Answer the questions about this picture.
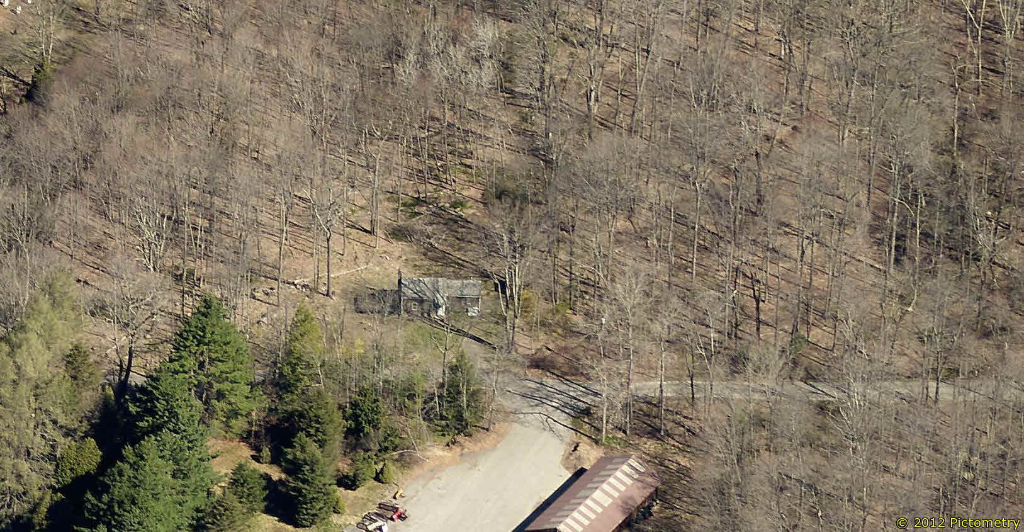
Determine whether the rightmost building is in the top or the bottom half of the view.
bottom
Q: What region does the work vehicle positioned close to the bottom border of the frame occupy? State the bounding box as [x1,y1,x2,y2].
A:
[390,507,410,522]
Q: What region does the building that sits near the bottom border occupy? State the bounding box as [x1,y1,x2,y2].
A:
[526,452,662,532]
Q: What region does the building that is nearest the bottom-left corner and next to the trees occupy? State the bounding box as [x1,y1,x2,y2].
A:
[395,273,483,322]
